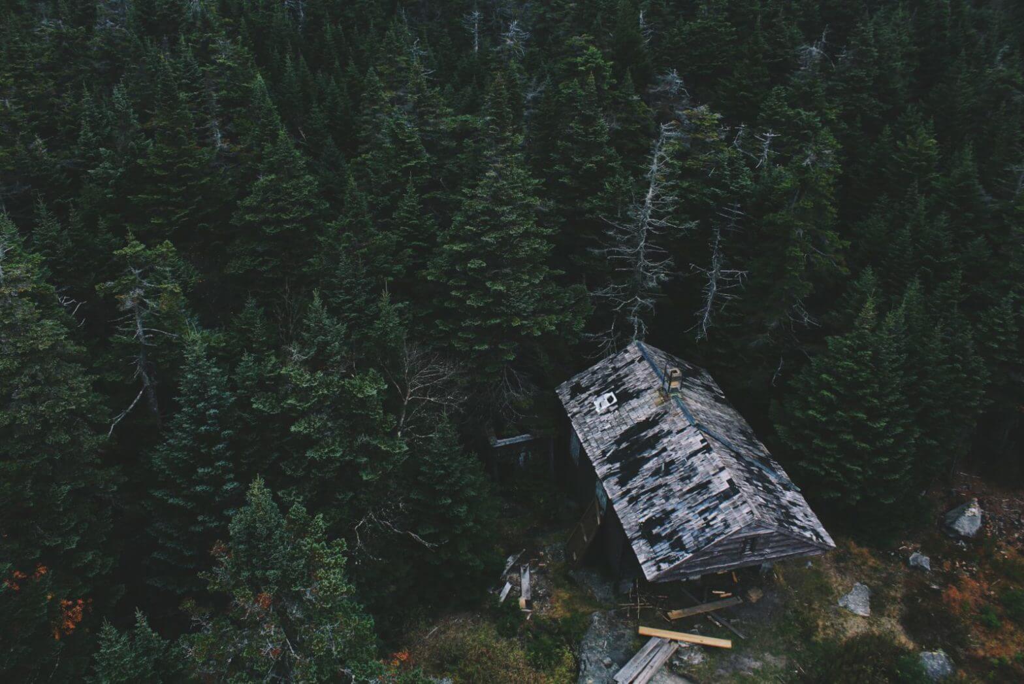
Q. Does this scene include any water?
No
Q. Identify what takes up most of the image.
trees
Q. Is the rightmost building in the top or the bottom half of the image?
bottom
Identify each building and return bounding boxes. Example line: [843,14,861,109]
[483,416,554,497]
[557,341,839,619]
